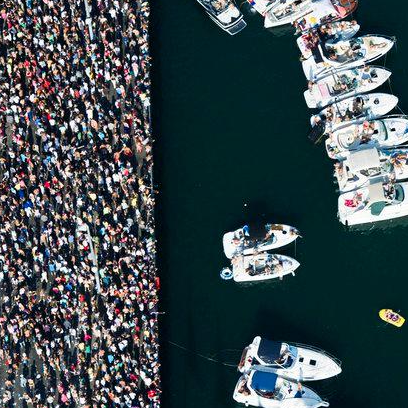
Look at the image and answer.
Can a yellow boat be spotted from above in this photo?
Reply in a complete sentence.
Yes, you can see a yellow boat in this photo.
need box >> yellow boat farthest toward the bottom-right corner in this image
[379,309,404,326]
